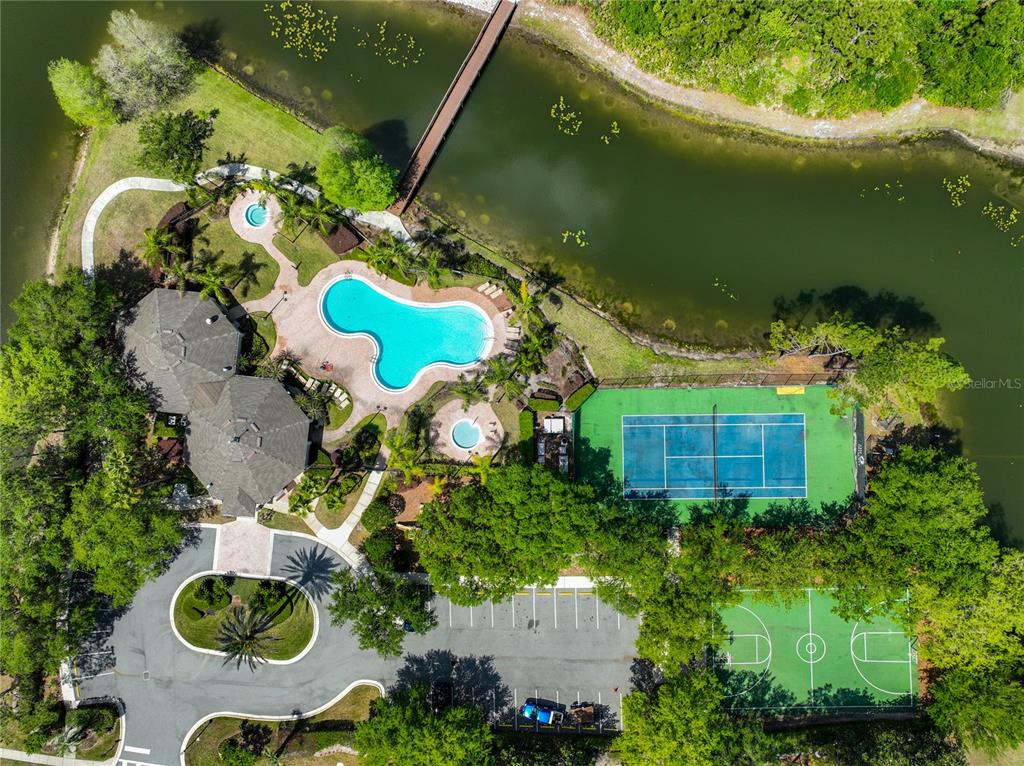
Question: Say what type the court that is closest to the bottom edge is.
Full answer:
The court that is closest to the bottom edge can be classified as a basketball court.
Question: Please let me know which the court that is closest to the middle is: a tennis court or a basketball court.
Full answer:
Looking closely, the court that is closest to the middle is a tennis court.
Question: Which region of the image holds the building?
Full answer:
The building is located in the left region of the scene.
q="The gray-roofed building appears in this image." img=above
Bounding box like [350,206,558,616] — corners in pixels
[110,287,311,522]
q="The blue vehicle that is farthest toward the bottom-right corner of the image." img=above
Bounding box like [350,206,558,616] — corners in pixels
[517,703,567,729]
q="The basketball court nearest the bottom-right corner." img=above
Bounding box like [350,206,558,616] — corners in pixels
[704,580,919,715]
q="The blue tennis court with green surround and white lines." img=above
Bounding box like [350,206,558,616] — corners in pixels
[575,385,858,527]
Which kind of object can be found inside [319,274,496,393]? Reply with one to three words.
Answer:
swimming pool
